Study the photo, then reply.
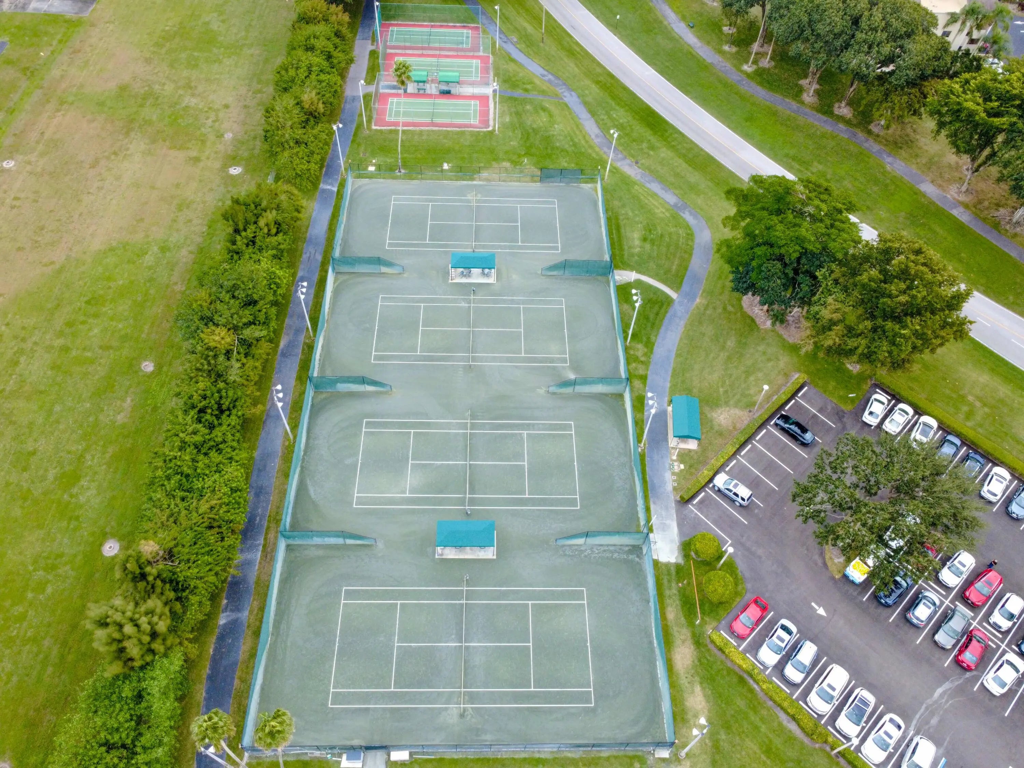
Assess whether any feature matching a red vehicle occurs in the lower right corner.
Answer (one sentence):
Yes, the scene does show a red vehicle in the lower right corner.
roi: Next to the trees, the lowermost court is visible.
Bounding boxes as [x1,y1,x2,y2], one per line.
[250,544,668,751]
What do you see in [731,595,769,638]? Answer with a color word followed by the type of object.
red car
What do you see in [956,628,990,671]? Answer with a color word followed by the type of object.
red car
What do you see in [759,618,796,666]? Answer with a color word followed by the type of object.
white car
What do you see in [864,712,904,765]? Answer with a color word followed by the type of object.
white car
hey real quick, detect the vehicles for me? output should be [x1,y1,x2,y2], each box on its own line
[939,549,976,588]
[776,416,814,446]
[936,433,963,465]
[910,415,936,449]
[810,663,849,714]
[894,733,936,768]
[956,628,990,671]
[759,618,796,666]
[1007,490,1024,521]
[989,591,1024,631]
[880,573,918,606]
[864,712,904,765]
[836,686,876,738]
[984,651,1023,696]
[713,475,753,508]
[964,567,1004,607]
[883,403,911,434]
[784,638,820,684]
[979,466,1010,502]
[906,590,940,628]
[862,393,887,425]
[934,605,970,649]
[1013,625,1024,653]
[958,450,986,482]
[845,545,880,584]
[731,595,769,638]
